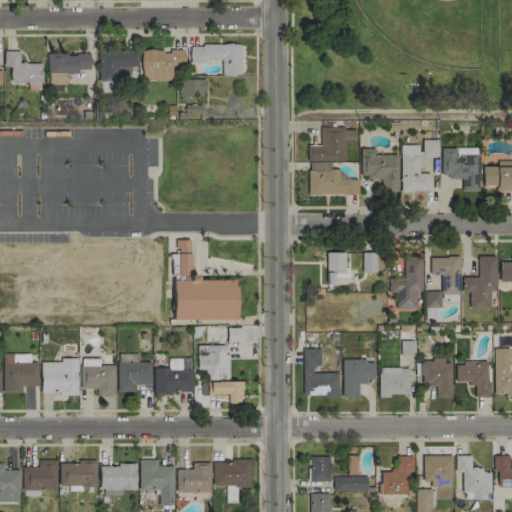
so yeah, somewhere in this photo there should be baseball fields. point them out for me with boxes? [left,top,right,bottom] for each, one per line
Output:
[357,0,482,70]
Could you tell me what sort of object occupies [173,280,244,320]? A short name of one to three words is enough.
building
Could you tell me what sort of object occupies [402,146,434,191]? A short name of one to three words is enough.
house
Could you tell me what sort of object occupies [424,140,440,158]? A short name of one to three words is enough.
building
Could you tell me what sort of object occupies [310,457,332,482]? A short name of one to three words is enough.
house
